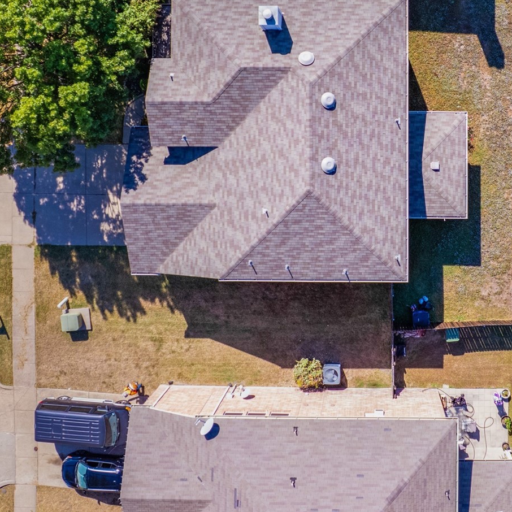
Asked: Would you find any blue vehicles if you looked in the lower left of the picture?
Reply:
Yes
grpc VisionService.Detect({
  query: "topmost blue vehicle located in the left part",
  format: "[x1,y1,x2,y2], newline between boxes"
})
[40,397,132,446]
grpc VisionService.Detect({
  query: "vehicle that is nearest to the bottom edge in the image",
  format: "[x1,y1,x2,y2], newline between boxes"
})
[64,450,126,498]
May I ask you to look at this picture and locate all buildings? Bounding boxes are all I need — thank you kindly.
[120,0,470,284]
[120,378,512,512]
